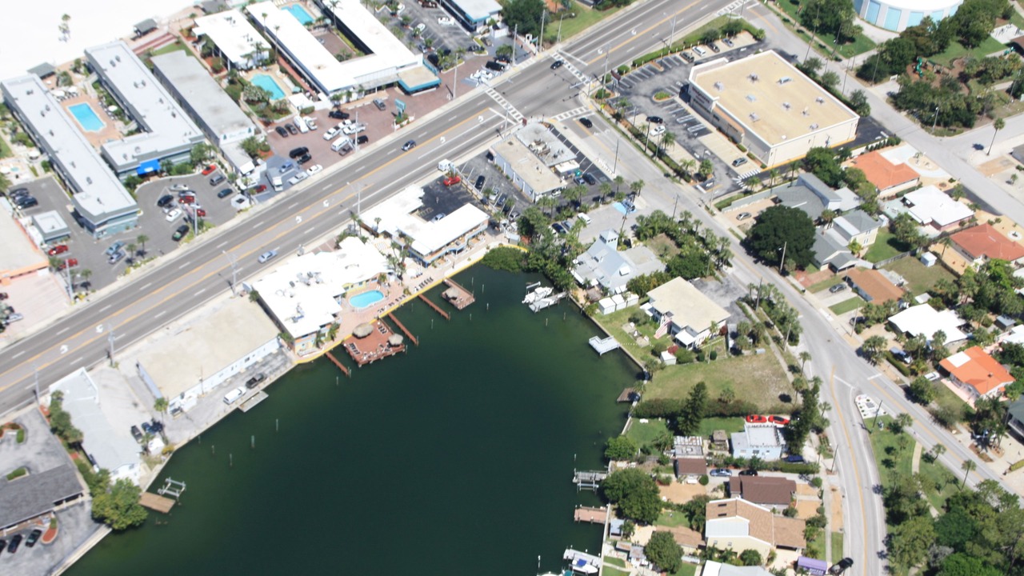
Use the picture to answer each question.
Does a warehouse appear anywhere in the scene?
Yes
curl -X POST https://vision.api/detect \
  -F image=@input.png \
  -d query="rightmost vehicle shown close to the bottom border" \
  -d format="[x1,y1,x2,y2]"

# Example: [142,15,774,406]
[830,554,855,571]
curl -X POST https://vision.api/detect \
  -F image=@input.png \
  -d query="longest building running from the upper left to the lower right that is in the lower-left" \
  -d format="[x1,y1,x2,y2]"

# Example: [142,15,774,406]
[49,366,139,483]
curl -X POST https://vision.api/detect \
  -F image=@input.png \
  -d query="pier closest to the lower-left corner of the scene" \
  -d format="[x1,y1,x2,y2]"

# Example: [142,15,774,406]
[139,490,176,517]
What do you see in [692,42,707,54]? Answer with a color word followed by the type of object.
white vehicle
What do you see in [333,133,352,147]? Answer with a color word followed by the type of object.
white vehicle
